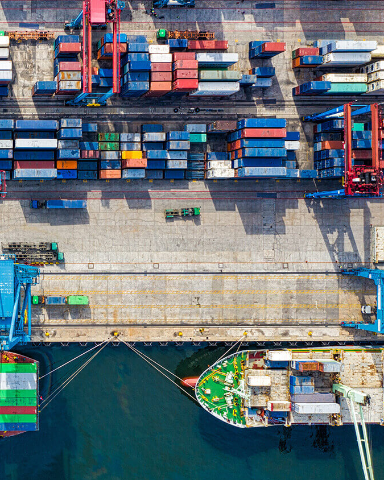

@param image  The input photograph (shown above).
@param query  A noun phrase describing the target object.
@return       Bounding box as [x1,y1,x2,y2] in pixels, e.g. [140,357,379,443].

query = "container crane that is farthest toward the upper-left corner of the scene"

[60,0,125,109]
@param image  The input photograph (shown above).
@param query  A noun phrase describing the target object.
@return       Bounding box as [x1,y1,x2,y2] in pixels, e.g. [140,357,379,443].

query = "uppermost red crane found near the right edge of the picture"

[301,99,384,207]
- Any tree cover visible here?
No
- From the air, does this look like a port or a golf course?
port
